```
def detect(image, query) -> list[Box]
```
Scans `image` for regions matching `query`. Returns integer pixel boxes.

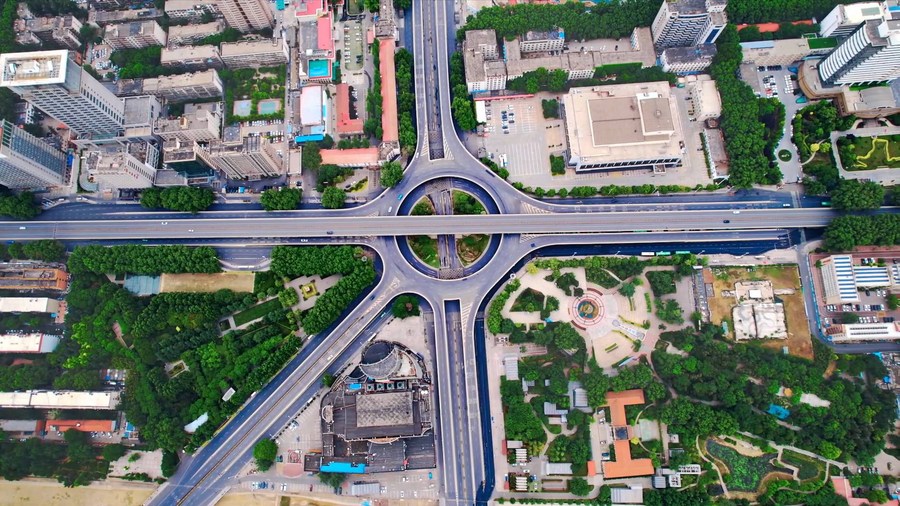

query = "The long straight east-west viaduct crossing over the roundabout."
[0,206,899,240]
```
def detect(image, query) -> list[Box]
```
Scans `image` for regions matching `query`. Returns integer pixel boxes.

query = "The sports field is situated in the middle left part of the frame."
[161,272,255,294]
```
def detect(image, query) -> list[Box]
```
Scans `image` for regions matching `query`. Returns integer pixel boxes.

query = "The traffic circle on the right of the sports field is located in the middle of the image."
[330,131,576,330]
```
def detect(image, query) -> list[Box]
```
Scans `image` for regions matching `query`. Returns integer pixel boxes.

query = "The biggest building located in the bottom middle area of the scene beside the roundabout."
[305,336,436,471]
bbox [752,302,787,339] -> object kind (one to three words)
building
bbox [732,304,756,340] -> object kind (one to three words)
building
